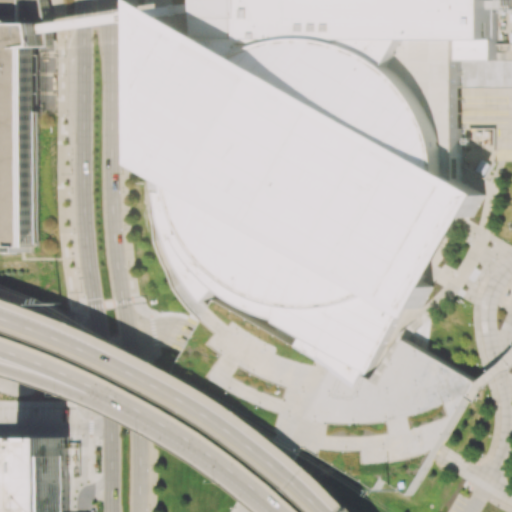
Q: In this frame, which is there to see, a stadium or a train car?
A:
stadium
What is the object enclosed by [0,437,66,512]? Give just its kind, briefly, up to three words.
building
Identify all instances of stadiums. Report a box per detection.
[117,2,483,386]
